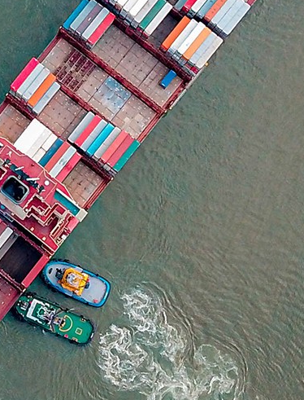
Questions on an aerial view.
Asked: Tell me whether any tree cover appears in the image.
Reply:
No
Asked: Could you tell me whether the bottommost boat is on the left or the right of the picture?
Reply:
left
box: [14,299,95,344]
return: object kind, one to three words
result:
boat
